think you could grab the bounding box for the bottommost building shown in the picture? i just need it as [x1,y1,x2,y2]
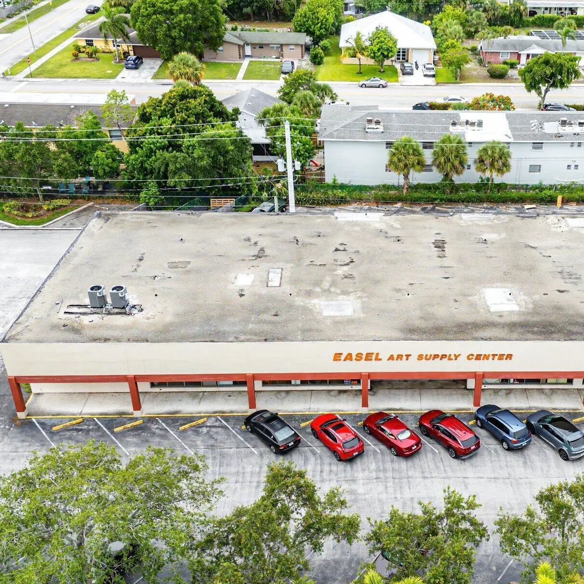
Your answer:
[0,208,584,419]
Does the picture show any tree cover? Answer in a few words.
Yes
